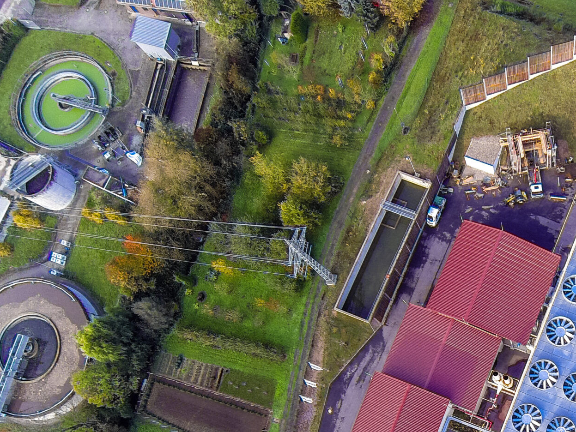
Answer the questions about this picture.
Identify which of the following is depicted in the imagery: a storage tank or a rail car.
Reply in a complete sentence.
Visible in the photo is a storage tank.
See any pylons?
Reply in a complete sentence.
Yes, there's a pylon down there.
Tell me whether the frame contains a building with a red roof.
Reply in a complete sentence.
Yes, there is a building with a red roof in the image.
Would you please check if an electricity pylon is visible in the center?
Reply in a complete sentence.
Yes, the scene does show an electricity pylon in the center.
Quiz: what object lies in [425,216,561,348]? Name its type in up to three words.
building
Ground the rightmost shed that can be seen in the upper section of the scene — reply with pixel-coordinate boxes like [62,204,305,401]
[464,140,501,172]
